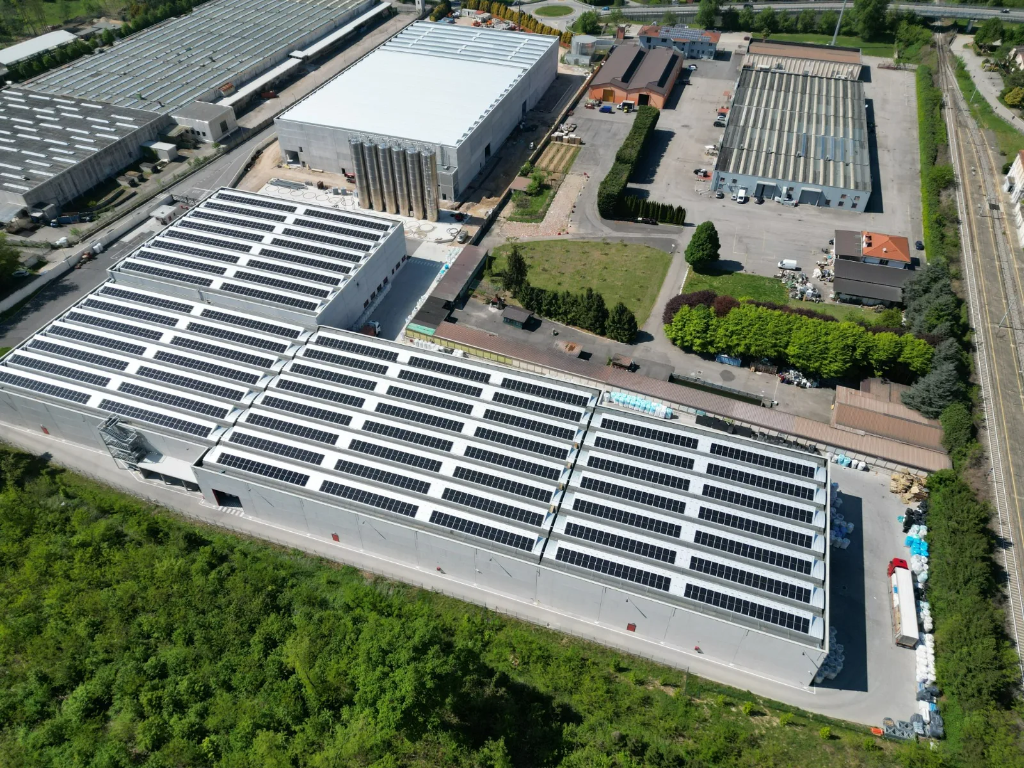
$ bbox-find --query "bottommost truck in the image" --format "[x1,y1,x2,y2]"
[887,555,922,652]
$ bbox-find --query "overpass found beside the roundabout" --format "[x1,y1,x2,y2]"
[601,1,1024,27]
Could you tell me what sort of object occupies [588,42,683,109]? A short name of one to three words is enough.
building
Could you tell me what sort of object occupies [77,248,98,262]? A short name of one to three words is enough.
work vehicle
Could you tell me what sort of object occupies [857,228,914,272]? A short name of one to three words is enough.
house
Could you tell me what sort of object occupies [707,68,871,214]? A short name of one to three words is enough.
warehouse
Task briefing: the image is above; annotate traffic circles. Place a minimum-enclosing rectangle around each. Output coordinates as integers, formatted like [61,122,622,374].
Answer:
[516,0,591,22]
